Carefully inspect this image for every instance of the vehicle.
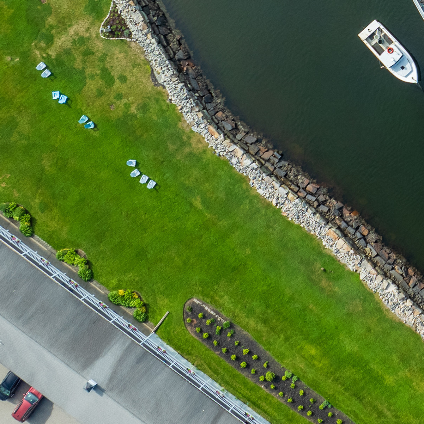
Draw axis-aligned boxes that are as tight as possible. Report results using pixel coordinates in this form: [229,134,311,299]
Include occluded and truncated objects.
[0,371,21,401]
[12,388,43,422]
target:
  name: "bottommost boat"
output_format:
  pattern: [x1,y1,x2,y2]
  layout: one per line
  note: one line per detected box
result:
[359,19,421,85]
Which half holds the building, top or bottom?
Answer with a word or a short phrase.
bottom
